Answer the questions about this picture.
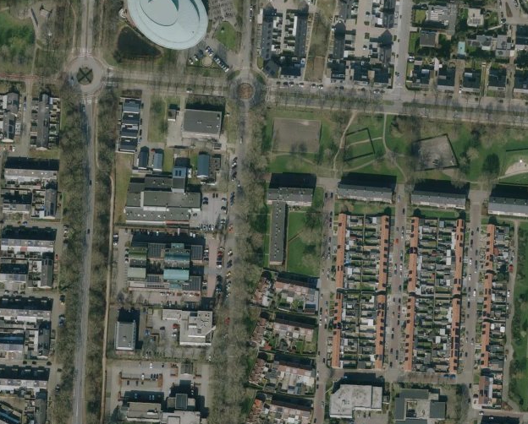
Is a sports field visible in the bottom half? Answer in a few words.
No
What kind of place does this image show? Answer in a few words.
residential area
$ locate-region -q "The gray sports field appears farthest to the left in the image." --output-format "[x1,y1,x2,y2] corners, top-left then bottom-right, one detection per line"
[271,116,323,153]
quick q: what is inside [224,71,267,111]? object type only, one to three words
roundabout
